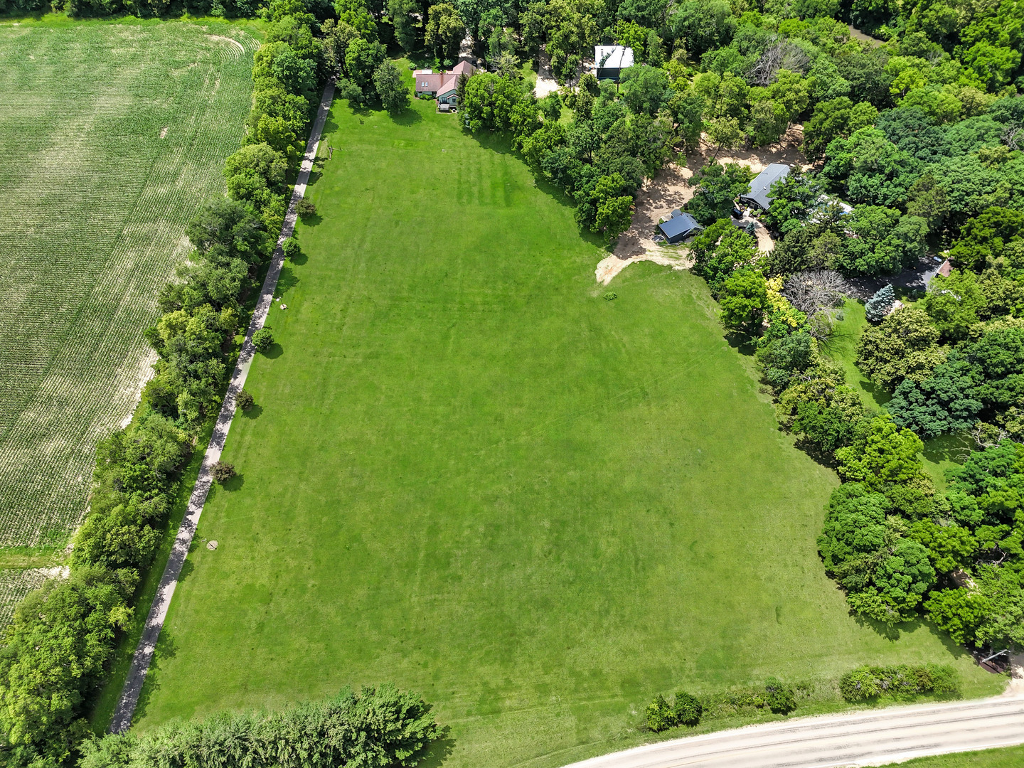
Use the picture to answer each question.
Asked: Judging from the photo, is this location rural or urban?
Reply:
rural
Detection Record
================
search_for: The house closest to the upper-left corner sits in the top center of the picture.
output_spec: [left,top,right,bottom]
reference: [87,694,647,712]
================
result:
[416,60,477,110]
